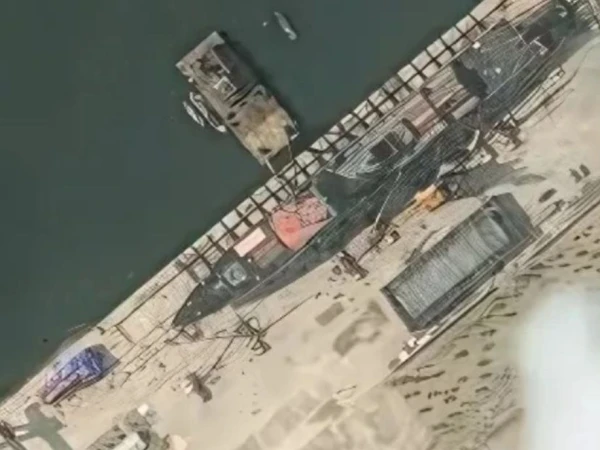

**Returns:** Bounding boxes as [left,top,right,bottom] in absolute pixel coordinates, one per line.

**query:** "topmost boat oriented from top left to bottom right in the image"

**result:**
[276,12,297,39]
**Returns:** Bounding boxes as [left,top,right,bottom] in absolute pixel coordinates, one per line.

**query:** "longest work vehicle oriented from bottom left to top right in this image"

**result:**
[384,179,448,228]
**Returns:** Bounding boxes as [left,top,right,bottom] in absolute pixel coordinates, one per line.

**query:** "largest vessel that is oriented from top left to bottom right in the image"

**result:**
[176,32,297,164]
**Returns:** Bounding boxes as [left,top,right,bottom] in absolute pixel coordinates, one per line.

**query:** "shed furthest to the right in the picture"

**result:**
[379,190,538,333]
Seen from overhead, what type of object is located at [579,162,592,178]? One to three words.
vehicle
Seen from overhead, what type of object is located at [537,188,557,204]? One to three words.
vehicle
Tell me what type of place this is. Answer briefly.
port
